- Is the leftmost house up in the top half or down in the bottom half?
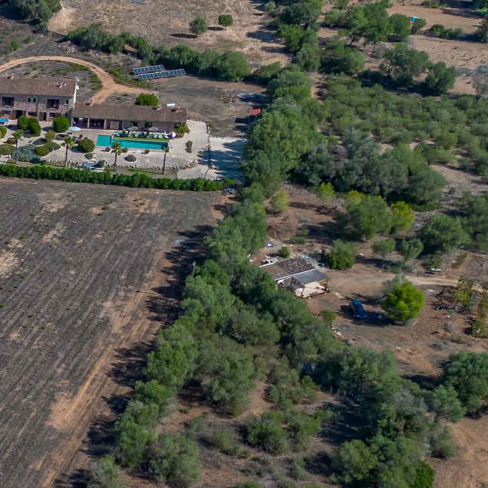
top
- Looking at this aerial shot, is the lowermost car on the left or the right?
right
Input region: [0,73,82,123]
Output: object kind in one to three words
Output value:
house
